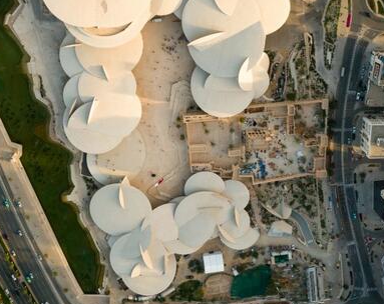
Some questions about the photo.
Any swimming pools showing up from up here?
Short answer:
Yes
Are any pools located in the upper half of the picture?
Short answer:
No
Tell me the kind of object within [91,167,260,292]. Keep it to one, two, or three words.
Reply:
building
